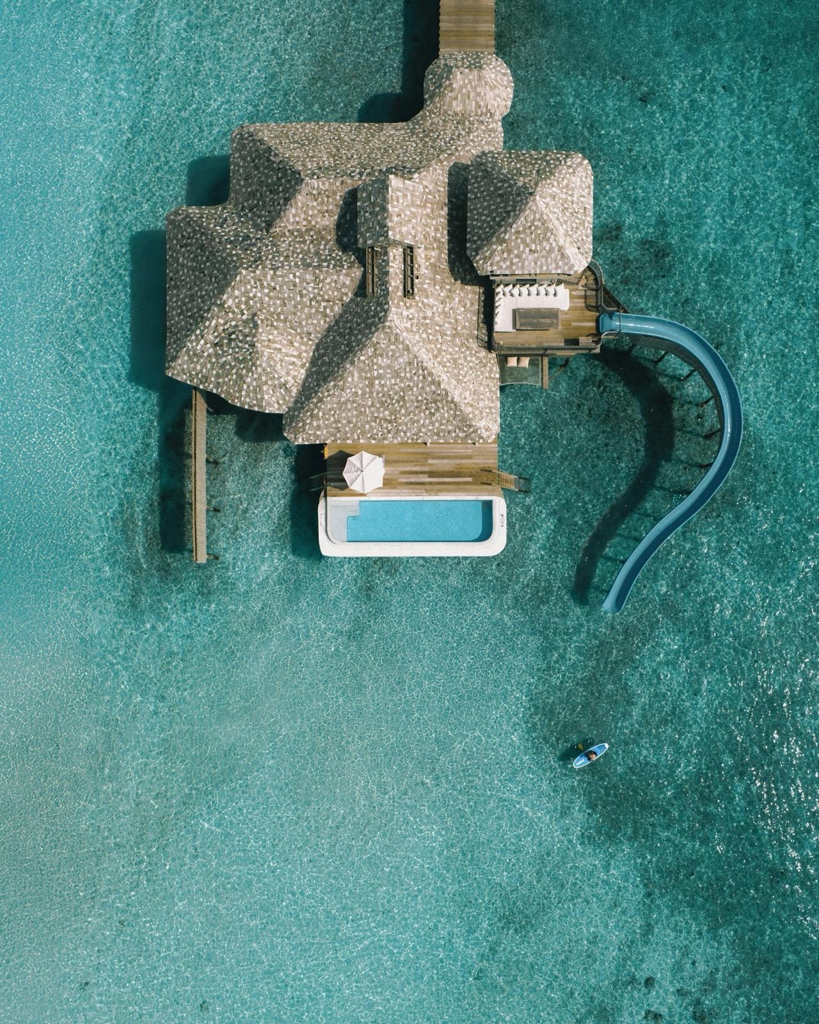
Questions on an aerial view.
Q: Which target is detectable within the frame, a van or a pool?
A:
pool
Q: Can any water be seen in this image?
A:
Yes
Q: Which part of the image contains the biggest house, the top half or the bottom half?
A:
top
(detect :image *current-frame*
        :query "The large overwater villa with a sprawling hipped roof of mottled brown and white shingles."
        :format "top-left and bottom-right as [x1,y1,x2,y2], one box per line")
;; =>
[166,107,505,451]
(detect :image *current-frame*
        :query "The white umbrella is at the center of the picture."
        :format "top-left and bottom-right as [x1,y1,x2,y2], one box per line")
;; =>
[343,451,385,494]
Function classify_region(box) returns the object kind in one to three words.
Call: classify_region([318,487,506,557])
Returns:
swimming pool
